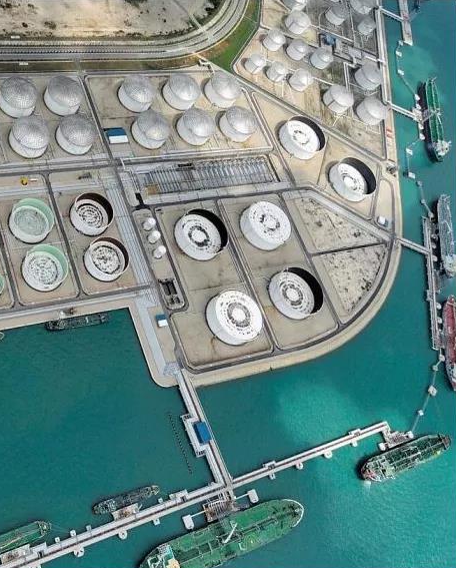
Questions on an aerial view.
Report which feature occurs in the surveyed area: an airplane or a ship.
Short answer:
ship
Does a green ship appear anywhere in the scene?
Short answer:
Yes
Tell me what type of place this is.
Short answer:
industrial area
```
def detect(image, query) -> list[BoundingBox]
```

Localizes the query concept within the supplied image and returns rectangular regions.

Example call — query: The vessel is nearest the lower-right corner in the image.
[356,432,453,485]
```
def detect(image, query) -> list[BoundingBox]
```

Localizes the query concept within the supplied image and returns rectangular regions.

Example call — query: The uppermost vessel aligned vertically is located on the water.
[424,77,455,163]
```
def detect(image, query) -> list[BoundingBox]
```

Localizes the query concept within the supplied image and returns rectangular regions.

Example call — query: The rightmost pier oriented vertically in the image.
[420,217,439,349]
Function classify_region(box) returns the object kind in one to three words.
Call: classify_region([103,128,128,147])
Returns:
building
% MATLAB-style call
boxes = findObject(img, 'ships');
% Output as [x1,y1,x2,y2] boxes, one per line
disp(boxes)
[43,312,110,332]
[440,294,456,393]
[356,432,453,485]
[424,77,455,163]
[129,501,305,568]
[434,192,456,279]
[0,519,50,555]
[92,485,161,515]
